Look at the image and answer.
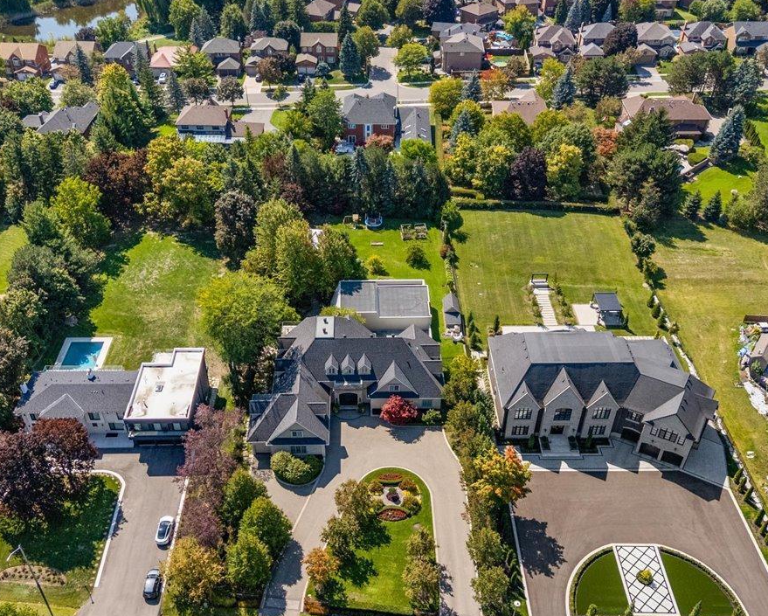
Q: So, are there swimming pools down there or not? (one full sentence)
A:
Yes, there's a swimming pool here.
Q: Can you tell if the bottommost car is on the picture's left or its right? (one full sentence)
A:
You can find the bottommost car on the left side of the picture.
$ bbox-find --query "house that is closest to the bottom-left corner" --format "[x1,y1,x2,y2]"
[13,344,209,445]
